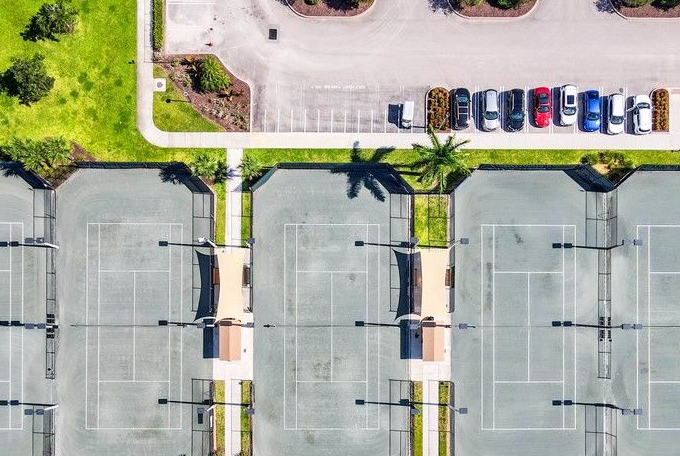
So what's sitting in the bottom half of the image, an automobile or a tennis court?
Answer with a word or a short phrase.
tennis court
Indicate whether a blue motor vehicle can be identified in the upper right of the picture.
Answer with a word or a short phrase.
Yes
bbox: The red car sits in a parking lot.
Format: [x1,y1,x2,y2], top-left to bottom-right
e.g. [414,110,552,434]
[534,87,554,126]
